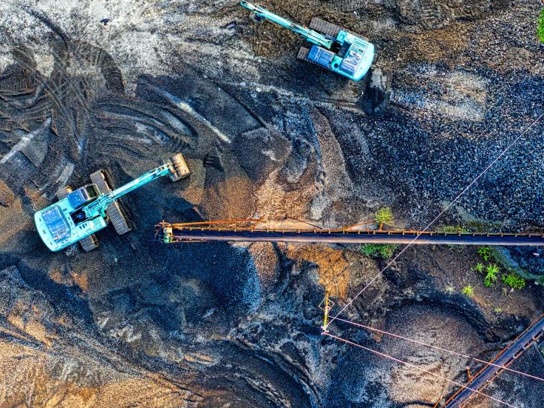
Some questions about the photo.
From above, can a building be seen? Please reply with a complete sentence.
No, I can't see a single building in this photo.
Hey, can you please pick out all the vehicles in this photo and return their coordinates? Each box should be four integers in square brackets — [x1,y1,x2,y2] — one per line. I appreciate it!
[40,153,201,254]
[252,0,380,82]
